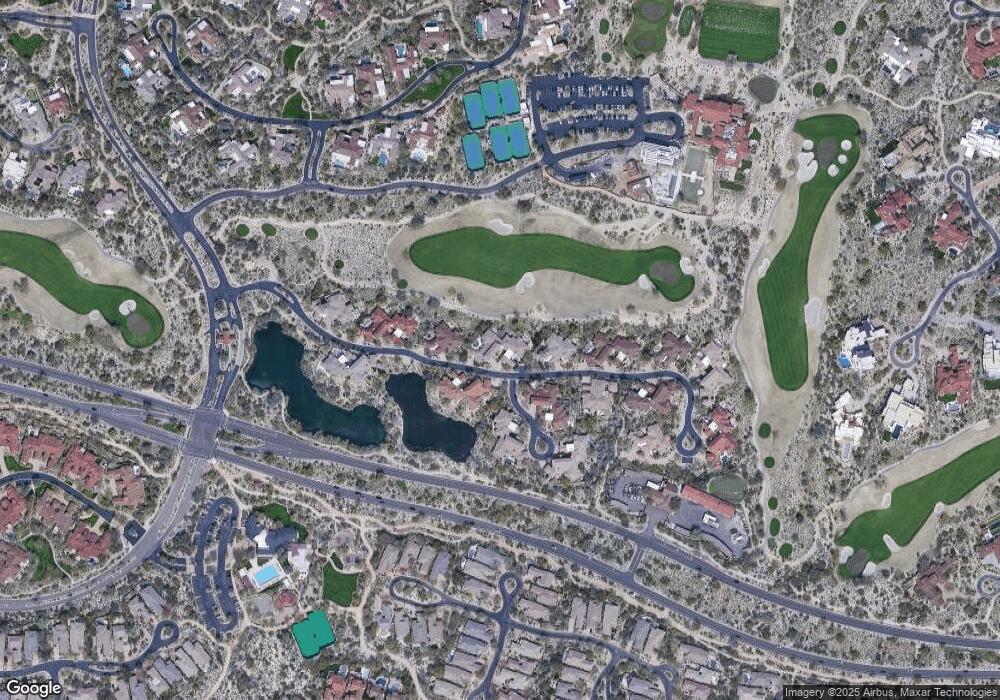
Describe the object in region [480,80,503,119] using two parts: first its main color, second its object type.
blue tennis court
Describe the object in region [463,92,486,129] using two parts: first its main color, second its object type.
blue tennis court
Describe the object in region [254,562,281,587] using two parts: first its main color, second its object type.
blue swimming pool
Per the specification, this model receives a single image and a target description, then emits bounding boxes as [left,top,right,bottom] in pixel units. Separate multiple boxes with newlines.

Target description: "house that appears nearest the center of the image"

[476,327,532,371]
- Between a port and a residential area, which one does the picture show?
residential area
